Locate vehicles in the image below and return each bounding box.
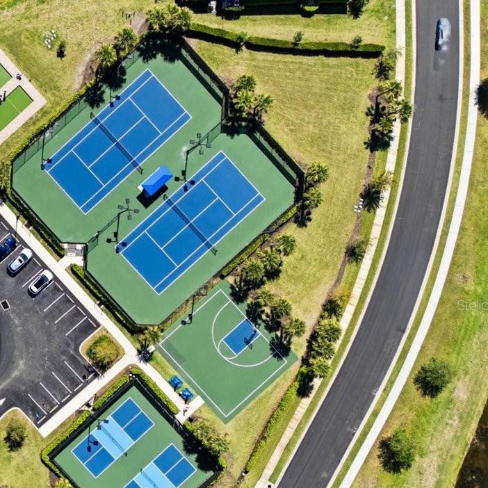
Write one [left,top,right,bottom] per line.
[7,250,33,276]
[27,270,54,295]
[436,20,452,48]
[0,237,16,260]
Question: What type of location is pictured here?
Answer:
sports ground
